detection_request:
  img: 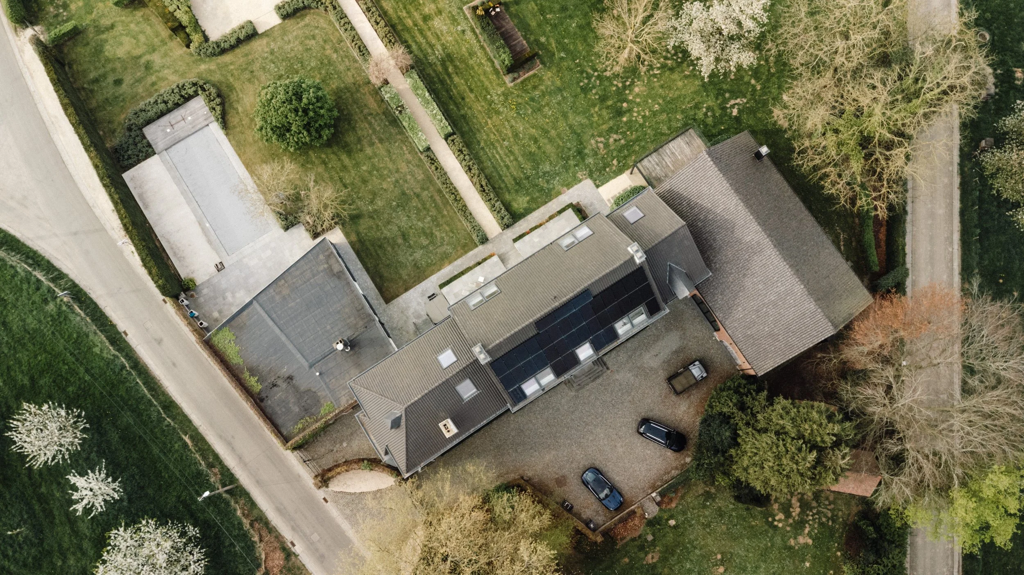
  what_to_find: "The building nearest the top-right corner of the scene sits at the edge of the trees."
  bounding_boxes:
[654,129,872,376]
